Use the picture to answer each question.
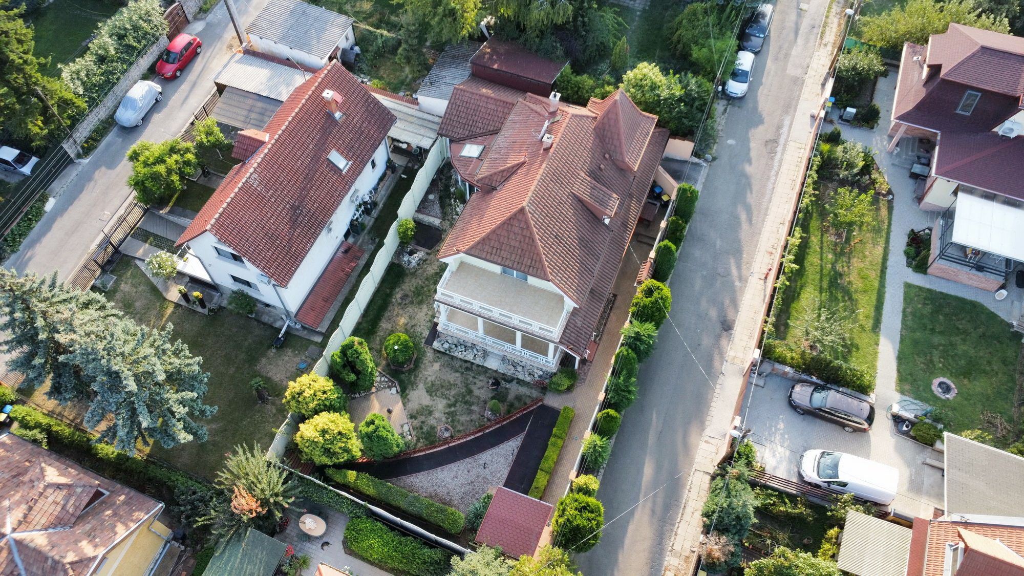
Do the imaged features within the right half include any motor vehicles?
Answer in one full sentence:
Yes, a motor vehicle can be seen within the right half.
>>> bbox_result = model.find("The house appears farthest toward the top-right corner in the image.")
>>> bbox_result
[876,0,1024,239]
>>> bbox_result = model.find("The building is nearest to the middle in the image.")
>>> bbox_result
[432,75,676,369]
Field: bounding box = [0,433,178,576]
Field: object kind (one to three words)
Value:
house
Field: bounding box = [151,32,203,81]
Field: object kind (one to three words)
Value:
car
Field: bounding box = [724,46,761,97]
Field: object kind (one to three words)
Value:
car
